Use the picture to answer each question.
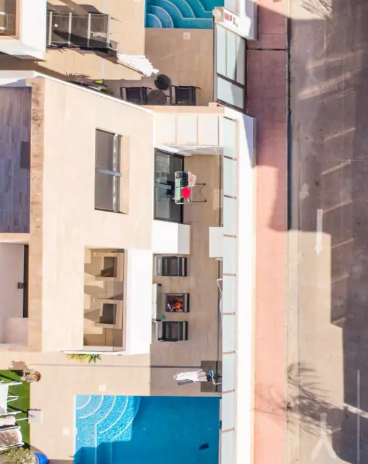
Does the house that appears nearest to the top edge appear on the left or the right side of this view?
left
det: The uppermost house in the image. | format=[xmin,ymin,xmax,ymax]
[0,0,65,58]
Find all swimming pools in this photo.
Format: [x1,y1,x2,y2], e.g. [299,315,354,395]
[72,396,220,464]
[144,0,211,28]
